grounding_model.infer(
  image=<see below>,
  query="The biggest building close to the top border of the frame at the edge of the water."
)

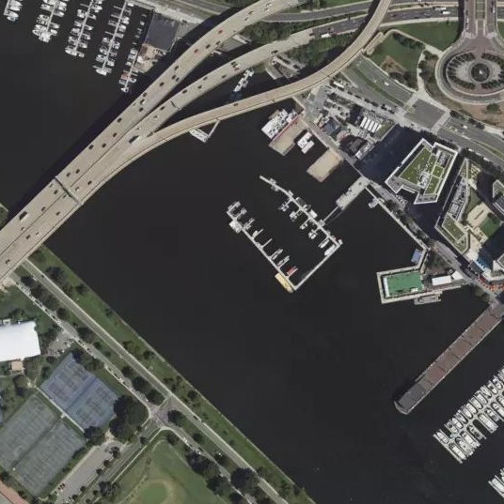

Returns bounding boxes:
[145,13,180,51]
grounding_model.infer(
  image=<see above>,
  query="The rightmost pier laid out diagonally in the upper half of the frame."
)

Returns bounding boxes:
[336,177,373,208]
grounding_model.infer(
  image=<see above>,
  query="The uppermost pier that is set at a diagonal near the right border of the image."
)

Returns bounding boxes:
[385,303,503,417]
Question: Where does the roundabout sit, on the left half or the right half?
right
